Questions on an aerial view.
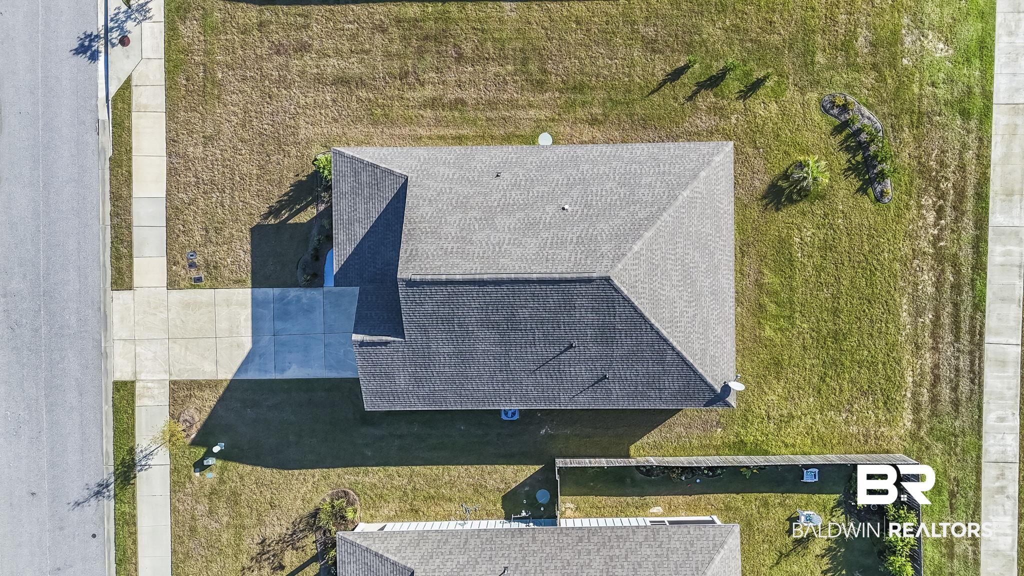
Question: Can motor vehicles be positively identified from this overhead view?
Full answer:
No, there isn't any motor vehicle down there.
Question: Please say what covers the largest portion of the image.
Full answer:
The bulk of the photo consists of grass.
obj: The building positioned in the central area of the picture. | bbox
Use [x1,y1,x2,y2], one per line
[331,141,737,412]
